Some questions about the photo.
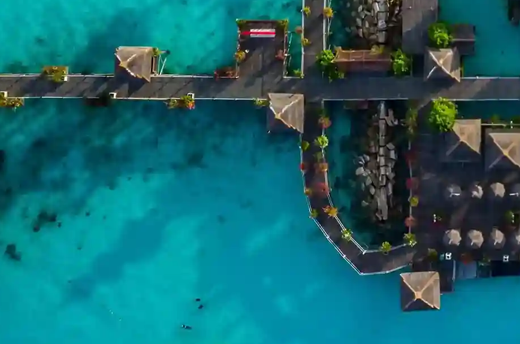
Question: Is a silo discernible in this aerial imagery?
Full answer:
No, there is no silo in the image.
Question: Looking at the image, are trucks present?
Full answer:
No, I find no truck anywhere in the image.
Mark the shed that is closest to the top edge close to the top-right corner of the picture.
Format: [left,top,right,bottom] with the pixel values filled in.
[448,24,475,55]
